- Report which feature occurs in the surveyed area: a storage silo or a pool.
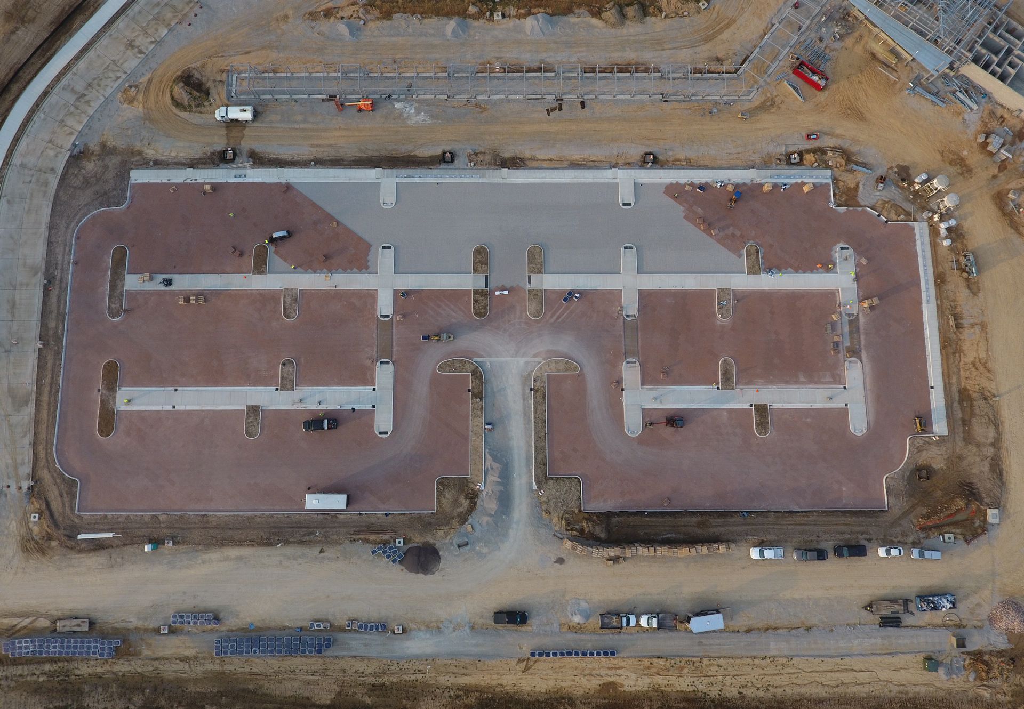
storage silo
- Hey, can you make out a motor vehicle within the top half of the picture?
Yes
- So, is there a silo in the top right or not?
Yes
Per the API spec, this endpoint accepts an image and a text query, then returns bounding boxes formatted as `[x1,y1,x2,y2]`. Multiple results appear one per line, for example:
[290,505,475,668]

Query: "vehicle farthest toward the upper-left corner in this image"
[212,105,262,124]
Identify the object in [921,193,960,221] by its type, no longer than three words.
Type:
silo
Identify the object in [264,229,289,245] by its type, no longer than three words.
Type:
work vehicle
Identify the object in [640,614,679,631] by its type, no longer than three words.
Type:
vehicle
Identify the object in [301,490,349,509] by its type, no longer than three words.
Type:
trailer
